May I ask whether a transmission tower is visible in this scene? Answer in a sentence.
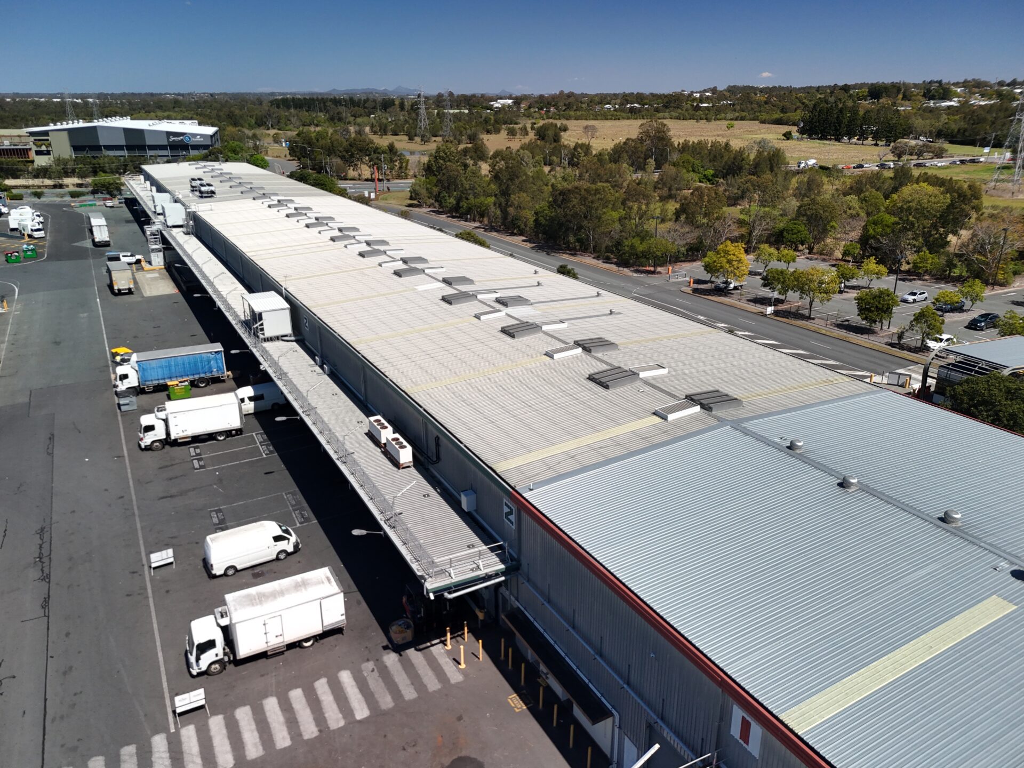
Yes, the image includes a transmission tower.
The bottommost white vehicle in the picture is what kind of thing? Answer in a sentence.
I'd identify the bottommost white vehicle as a truck.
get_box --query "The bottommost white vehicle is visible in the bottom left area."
[181,560,345,676]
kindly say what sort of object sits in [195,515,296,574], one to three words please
van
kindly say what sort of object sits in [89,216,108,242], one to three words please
vehicle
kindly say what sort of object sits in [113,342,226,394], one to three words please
truck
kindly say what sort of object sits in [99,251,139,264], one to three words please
vehicle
